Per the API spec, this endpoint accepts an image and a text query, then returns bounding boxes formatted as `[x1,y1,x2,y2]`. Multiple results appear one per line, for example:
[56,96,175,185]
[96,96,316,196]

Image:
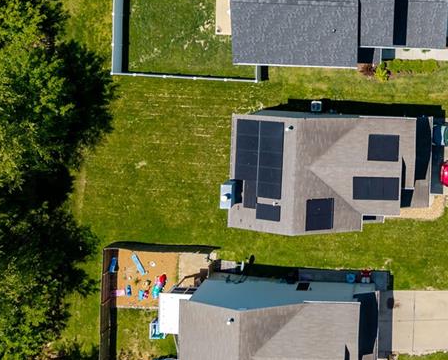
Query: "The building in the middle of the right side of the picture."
[219,109,434,237]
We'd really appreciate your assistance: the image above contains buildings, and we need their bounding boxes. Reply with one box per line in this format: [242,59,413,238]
[177,282,380,360]
[228,0,448,72]
[219,109,434,237]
